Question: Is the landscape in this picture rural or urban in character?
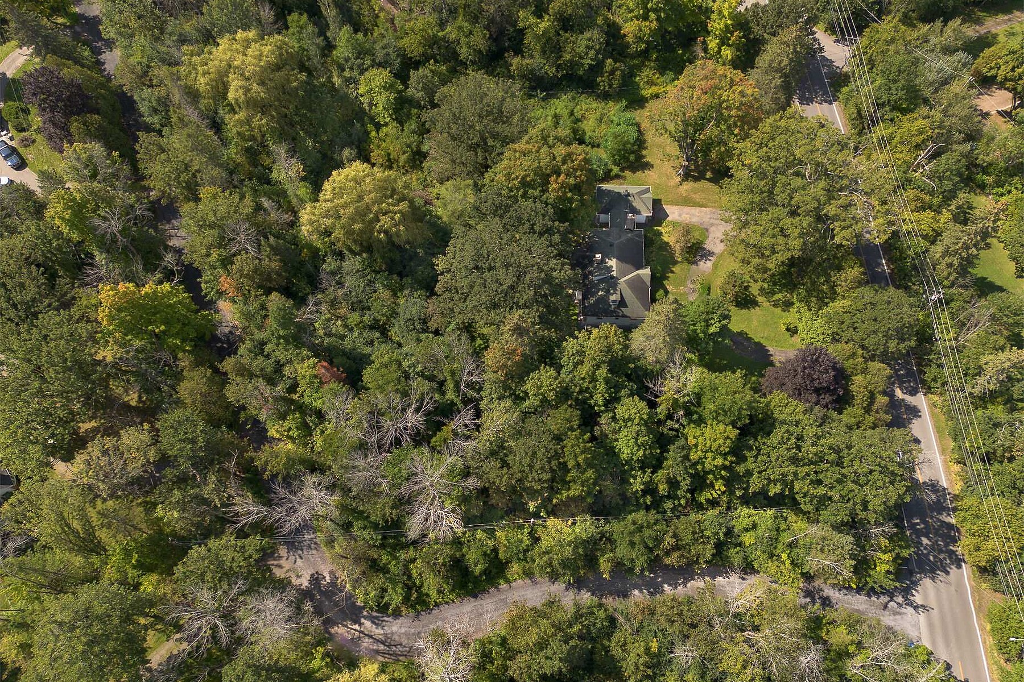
rural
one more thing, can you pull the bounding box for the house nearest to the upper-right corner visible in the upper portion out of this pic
[574,185,652,326]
